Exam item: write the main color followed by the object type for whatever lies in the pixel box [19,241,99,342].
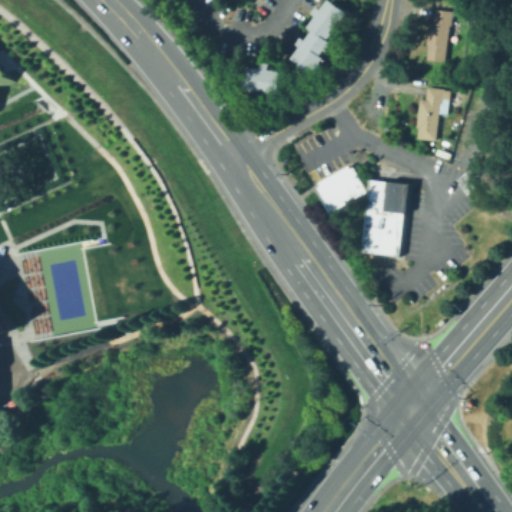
green sports court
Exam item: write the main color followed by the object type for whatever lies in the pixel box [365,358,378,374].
white vehicle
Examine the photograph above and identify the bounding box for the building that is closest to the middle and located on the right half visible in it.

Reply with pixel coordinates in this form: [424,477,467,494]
[317,166,367,212]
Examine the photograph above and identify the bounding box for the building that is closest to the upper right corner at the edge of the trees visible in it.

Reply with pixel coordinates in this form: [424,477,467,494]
[424,8,455,63]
